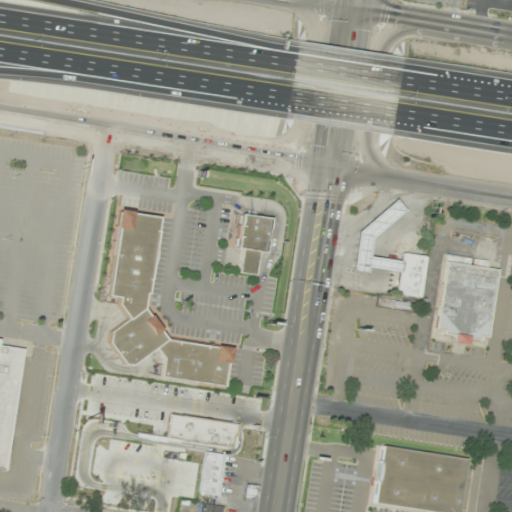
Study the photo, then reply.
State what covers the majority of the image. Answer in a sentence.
What you mostly see from above here is paved ground.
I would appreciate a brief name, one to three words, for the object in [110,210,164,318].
building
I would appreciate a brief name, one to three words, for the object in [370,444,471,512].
building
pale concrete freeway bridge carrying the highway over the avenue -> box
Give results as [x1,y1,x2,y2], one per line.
[290,38,404,134]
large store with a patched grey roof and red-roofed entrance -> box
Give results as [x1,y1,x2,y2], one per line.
[430,254,502,346]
